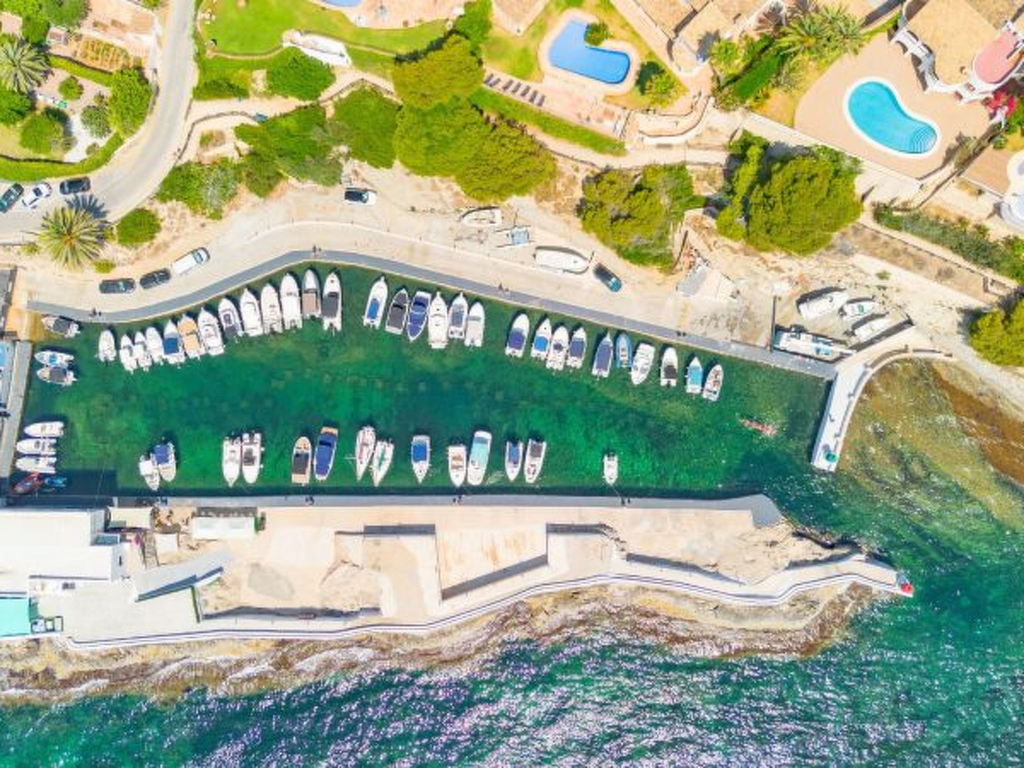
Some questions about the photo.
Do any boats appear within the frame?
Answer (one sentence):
Yes, there's a boat down there.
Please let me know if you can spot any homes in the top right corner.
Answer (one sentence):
Yes, there is a home in the top right corner.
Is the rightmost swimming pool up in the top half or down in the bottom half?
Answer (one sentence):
It is in the top half that the rightmost swimming pool appears.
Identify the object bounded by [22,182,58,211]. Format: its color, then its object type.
white car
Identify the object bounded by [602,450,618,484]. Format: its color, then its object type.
white boat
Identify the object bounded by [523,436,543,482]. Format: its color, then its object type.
white boat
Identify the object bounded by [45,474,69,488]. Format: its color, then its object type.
blue boat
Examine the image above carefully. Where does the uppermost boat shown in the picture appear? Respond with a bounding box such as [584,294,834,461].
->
[463,210,500,229]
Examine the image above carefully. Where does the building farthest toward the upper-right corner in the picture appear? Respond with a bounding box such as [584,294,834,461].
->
[883,0,1024,105]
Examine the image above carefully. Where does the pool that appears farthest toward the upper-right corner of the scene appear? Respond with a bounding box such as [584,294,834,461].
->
[844,78,941,159]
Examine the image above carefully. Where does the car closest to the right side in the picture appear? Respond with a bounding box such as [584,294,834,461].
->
[590,264,623,293]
